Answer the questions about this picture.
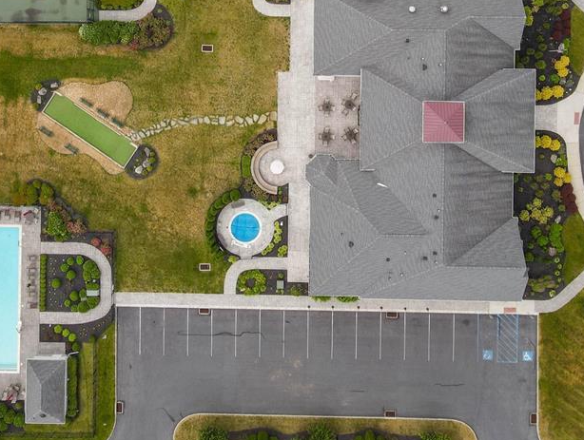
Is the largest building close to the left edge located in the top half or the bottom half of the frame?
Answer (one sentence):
The largest building close to the left edge sits in the bottom half of the picture.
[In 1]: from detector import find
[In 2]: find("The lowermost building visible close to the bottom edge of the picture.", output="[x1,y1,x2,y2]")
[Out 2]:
[24,355,70,425]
